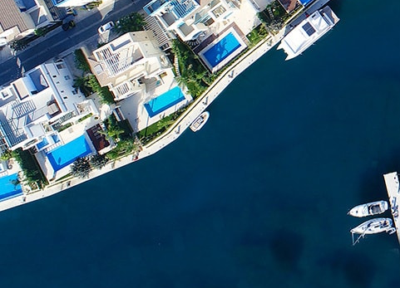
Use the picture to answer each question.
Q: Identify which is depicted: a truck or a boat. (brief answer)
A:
boat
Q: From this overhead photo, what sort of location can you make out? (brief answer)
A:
residential area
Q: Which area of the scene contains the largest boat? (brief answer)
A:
top right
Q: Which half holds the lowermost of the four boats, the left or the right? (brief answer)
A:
right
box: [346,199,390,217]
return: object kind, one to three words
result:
boat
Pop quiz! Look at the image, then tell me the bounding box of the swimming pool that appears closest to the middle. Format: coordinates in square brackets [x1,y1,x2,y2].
[139,83,191,124]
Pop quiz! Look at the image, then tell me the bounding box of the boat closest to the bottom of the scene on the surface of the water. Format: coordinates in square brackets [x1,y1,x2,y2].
[348,217,394,242]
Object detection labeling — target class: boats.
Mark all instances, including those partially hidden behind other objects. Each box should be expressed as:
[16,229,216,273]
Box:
[348,217,394,242]
[276,5,343,62]
[346,199,390,217]
[191,112,214,133]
